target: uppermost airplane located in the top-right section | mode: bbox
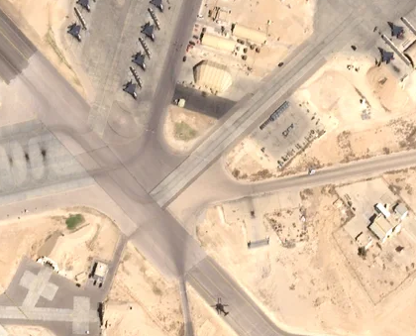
[390,21,405,38]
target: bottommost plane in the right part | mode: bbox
[379,48,394,64]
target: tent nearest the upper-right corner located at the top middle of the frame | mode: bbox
[232,23,265,43]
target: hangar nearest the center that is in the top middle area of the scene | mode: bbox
[192,60,232,92]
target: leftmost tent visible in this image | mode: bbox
[200,33,235,52]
